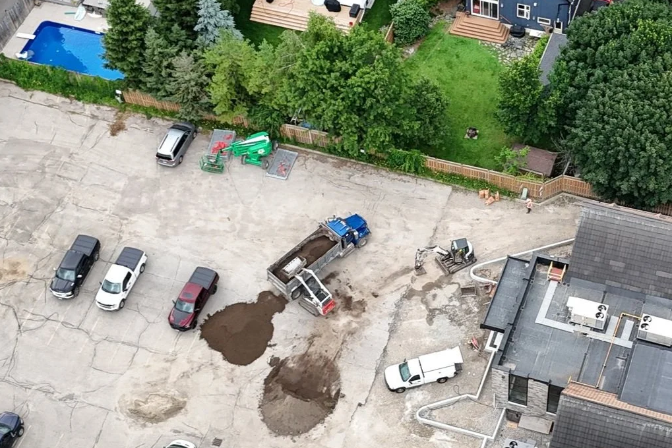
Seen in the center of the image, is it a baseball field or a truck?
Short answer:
truck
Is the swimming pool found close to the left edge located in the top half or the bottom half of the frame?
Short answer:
top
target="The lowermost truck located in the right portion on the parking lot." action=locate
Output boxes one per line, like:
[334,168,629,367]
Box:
[381,343,465,395]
